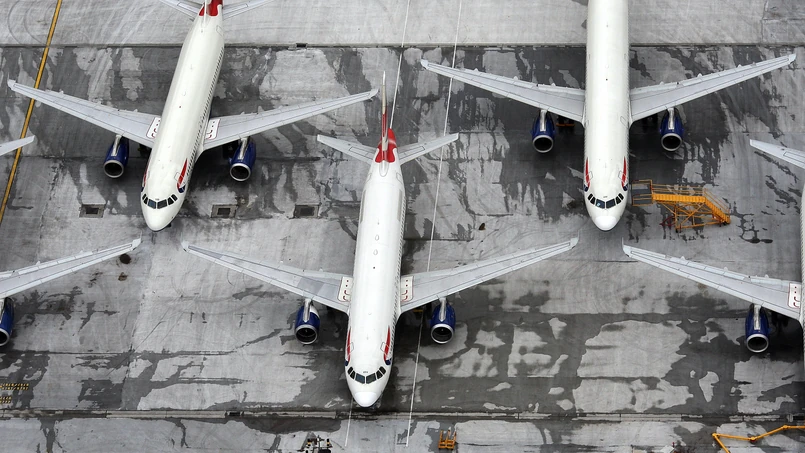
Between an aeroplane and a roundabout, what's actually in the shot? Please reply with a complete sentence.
This aerial view contains an aeroplane.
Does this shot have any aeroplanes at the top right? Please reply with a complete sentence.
Yes, the scene does show an aeroplane at the top right.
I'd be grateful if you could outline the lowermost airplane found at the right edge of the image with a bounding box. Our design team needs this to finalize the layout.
[627,137,805,350]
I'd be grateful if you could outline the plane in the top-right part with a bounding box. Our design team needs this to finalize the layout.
[425,0,792,233]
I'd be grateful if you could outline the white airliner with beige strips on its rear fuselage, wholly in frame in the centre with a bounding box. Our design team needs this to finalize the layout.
[185,74,575,408]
